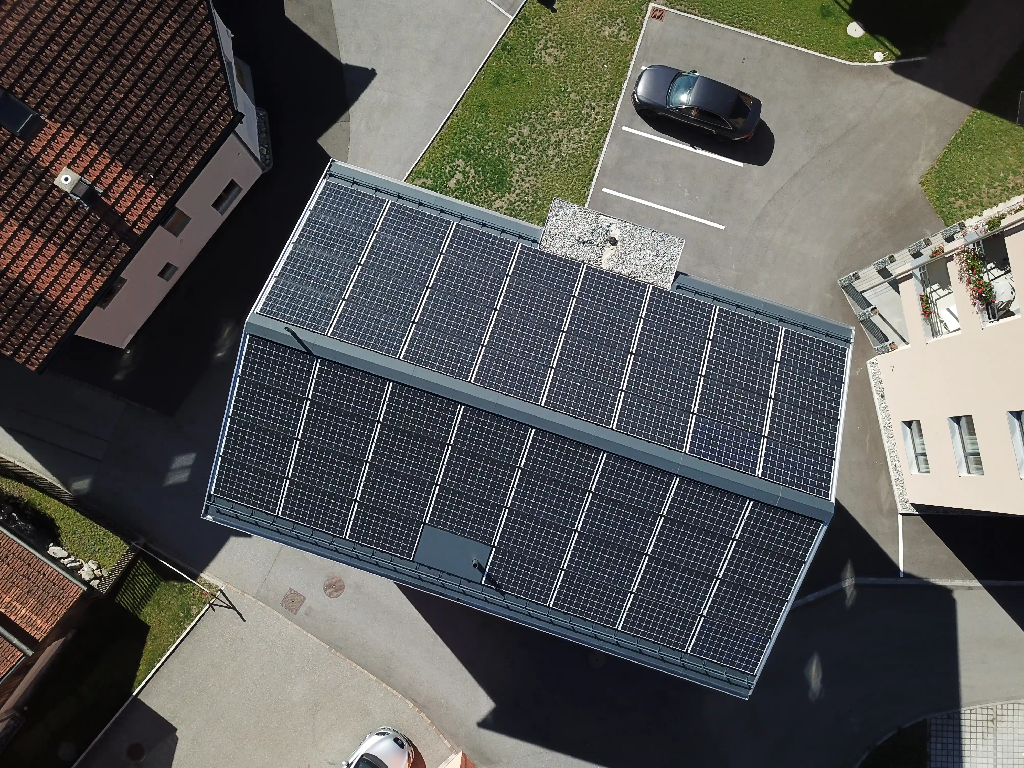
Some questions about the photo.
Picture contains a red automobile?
No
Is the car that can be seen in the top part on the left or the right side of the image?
right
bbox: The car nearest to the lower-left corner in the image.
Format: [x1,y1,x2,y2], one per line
[338,721,412,768]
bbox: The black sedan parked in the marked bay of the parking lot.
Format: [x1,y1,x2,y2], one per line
[631,64,764,145]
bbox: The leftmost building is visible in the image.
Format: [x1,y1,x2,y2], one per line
[0,514,114,743]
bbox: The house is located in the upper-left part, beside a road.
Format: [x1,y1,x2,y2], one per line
[0,0,263,375]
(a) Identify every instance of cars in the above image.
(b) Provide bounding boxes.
[338,721,412,768]
[631,64,764,145]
